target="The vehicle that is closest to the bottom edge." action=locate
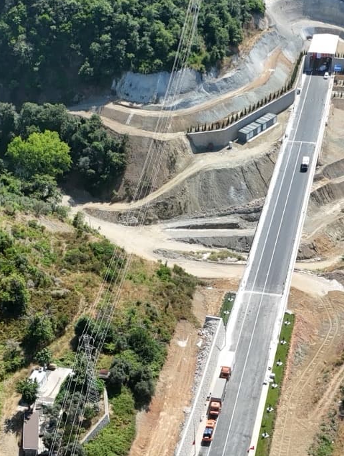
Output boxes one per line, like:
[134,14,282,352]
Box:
[198,415,216,441]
